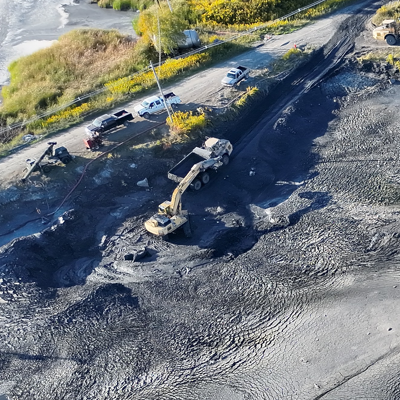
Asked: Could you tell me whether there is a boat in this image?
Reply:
No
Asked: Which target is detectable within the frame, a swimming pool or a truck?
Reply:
truck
